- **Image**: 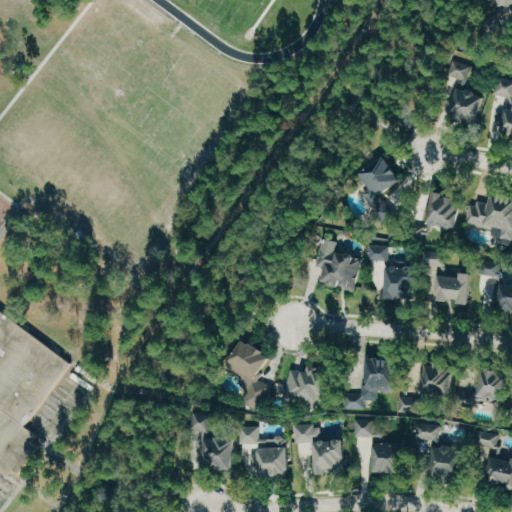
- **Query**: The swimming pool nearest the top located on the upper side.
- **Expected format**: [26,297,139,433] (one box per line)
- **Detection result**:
[345,190,371,218]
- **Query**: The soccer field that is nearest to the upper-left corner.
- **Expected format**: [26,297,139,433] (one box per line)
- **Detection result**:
[55,35,131,109]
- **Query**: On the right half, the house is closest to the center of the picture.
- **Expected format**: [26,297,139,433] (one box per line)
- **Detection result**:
[315,238,360,292]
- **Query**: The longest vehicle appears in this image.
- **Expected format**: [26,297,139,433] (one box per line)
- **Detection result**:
[69,374,93,392]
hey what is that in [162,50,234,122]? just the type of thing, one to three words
soccer field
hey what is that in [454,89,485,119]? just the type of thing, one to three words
house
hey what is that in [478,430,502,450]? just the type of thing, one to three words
building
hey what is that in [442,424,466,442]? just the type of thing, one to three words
swimming pool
